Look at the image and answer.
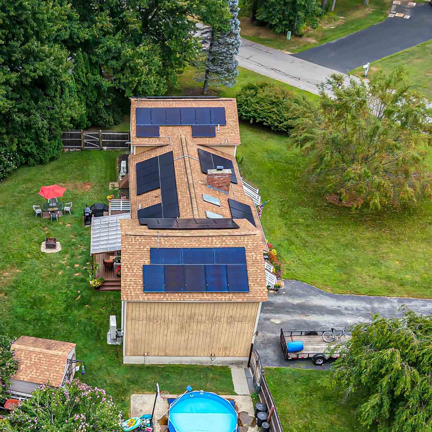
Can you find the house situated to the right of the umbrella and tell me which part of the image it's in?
center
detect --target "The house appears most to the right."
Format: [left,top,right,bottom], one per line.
[120,94,280,366]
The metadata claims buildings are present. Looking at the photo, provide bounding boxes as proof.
[9,341,73,408]
[120,94,280,366]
